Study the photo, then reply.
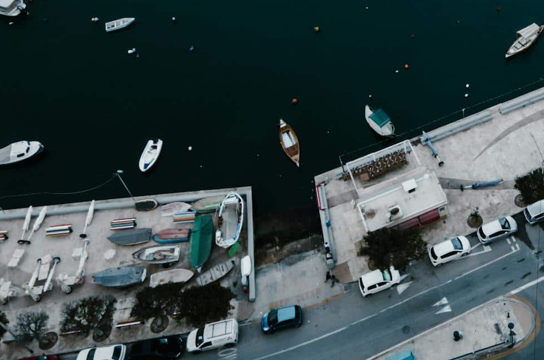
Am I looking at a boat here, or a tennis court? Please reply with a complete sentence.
The image shows a boat.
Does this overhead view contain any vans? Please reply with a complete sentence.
Yes, a van appears in the view.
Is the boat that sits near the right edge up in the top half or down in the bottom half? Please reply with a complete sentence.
The boat that sits near the right edge sits in the top half of the picture.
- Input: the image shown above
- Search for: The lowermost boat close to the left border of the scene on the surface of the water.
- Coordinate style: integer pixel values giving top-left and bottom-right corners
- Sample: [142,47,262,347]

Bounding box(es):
[0,141,43,165]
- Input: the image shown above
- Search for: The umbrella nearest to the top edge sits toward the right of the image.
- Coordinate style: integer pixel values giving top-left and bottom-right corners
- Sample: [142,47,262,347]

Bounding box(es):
[422,133,444,167]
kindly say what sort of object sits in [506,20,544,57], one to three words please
boat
